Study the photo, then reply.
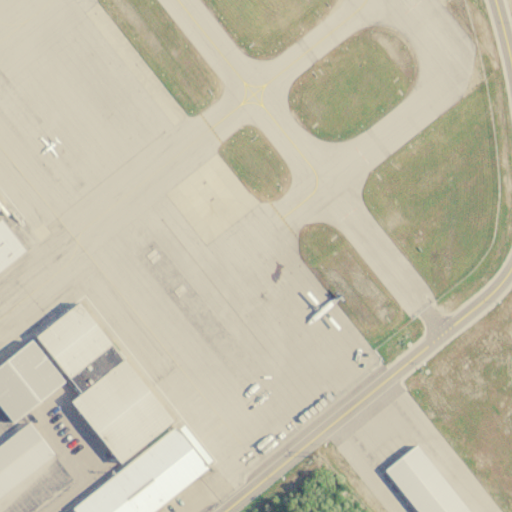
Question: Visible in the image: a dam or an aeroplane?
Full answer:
The one in the frame is an aeroplane.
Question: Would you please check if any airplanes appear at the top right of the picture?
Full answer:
No, no airplane is visible at the top right of the picture.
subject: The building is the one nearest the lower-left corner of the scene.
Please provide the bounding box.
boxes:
[0,424,56,500]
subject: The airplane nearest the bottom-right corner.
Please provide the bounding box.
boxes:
[310,292,348,332]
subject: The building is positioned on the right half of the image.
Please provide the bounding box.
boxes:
[386,446,469,512]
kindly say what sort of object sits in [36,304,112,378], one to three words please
hangar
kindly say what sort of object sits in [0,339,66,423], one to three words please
hangar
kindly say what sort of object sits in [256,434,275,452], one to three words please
vehicle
